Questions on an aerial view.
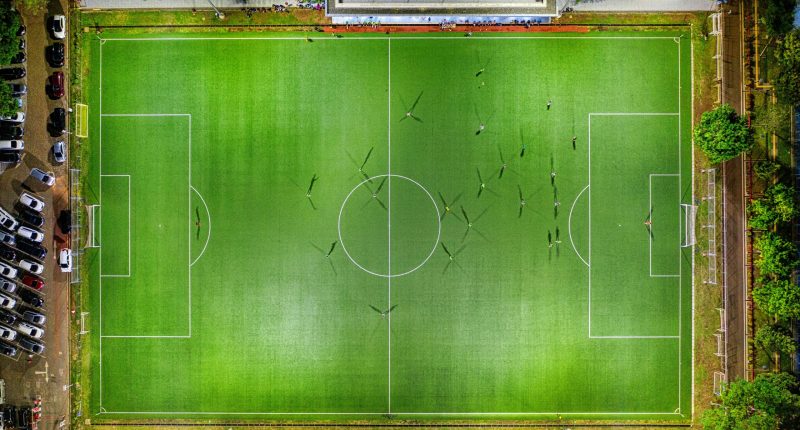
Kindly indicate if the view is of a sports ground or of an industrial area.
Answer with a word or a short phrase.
sports ground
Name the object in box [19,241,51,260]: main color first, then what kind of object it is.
black vehicle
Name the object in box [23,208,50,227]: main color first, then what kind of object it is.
black car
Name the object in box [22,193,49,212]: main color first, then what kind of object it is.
white car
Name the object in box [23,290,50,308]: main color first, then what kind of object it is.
black car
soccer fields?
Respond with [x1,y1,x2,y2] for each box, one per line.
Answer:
[90,30,693,419]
